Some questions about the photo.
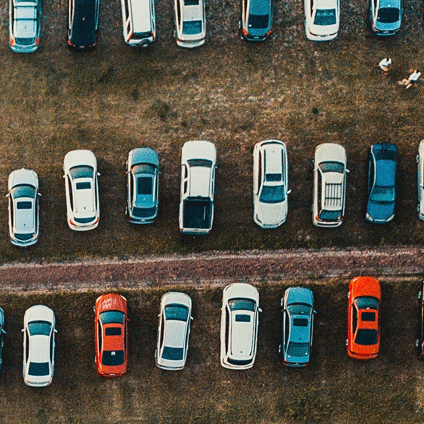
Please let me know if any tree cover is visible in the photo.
No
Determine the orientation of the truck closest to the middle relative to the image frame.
vertically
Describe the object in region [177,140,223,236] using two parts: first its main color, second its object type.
white truck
